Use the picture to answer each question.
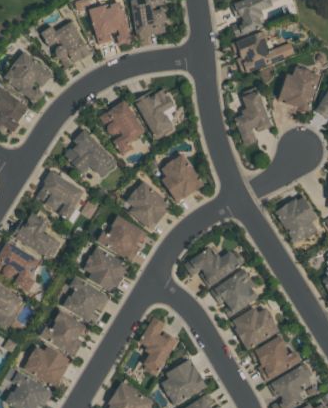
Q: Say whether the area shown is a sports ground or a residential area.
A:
residential area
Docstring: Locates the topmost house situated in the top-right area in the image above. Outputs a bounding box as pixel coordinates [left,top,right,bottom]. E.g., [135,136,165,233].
[234,0,280,36]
